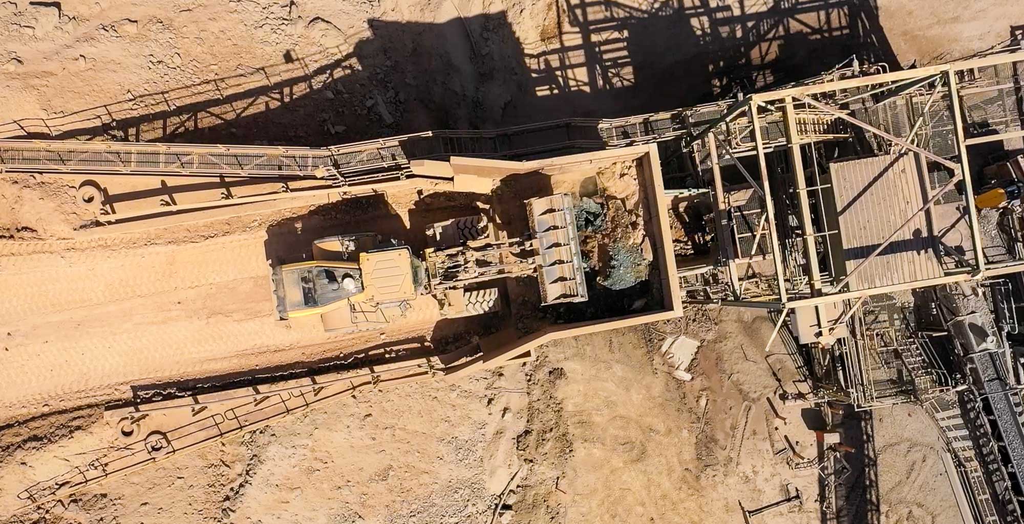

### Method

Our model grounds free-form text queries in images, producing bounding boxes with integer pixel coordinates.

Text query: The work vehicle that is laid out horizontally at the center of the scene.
[272,195,587,333]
